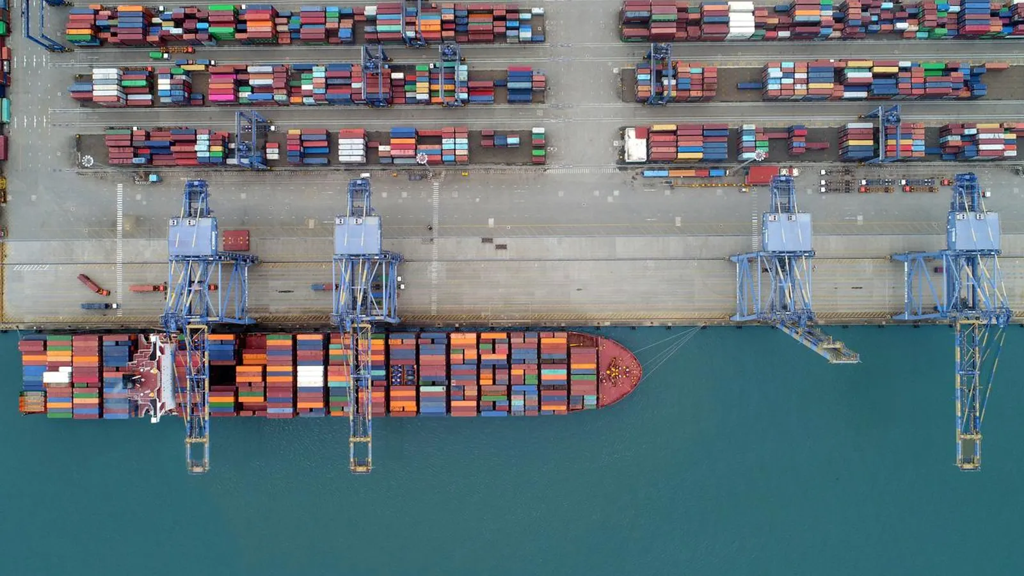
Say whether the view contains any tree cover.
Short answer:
No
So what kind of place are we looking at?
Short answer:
port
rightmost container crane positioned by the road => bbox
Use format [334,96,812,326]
[890,173,1014,472]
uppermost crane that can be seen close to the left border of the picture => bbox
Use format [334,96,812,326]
[21,0,72,51]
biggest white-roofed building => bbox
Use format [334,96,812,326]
[624,128,647,163]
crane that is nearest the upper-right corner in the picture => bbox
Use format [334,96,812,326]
[857,102,902,162]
